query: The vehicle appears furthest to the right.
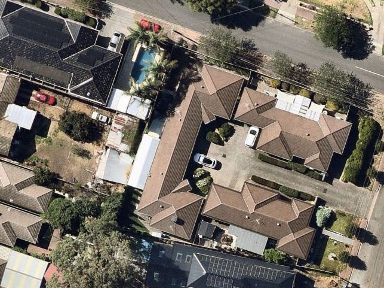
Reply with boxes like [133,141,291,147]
[245,124,259,150]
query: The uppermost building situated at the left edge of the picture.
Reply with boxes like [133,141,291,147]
[0,0,151,114]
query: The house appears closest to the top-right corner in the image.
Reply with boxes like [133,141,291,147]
[234,86,354,174]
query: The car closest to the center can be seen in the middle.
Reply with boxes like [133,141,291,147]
[193,152,218,167]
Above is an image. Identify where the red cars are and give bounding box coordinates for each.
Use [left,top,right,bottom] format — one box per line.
[138,18,162,34]
[32,91,57,105]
